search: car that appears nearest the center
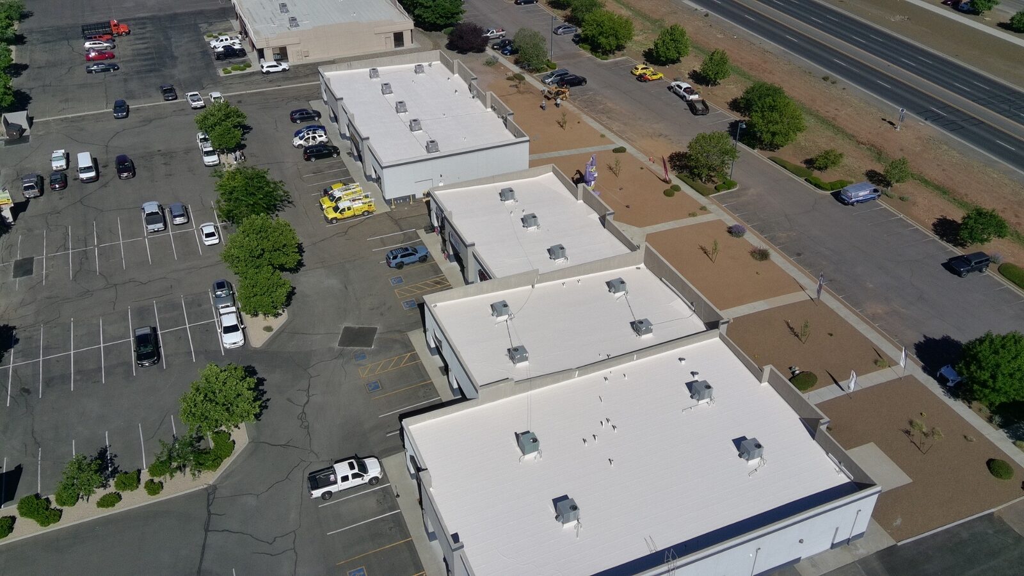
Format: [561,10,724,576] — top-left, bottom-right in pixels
[384,245,431,269]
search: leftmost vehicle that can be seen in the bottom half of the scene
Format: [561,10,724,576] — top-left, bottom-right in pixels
[132,323,162,369]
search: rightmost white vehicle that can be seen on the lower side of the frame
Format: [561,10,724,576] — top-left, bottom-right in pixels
[304,457,385,504]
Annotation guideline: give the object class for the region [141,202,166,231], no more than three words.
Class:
truck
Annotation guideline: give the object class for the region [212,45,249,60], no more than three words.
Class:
vehicle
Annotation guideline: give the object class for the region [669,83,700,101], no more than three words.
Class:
vehicle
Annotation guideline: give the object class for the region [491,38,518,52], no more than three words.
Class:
car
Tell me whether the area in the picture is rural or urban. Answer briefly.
urban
